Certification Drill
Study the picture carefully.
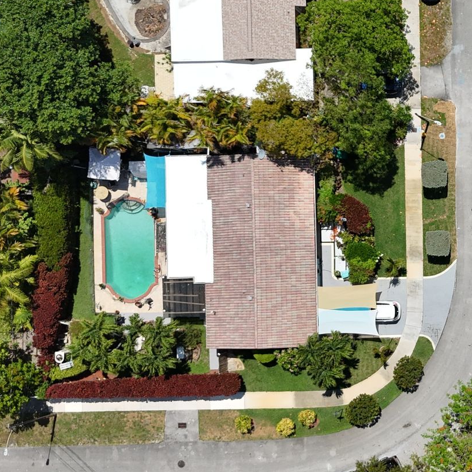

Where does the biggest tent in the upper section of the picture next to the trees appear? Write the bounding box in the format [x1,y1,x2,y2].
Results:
[88,147,131,183]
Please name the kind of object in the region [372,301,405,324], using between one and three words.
car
